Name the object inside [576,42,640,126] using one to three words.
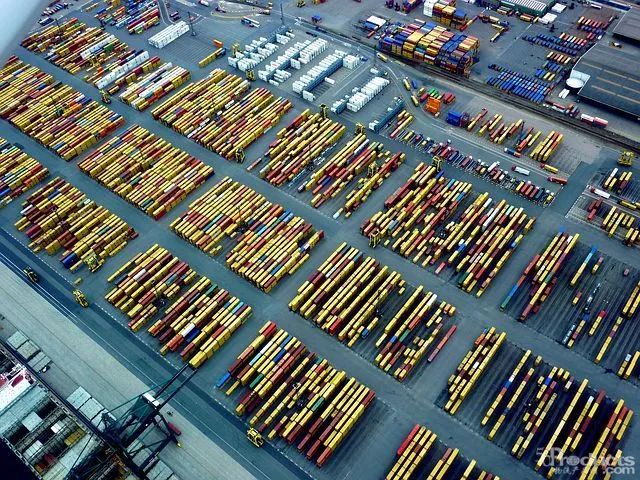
building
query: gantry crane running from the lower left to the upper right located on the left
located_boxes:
[52,362,199,480]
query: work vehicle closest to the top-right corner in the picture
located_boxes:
[618,148,634,166]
